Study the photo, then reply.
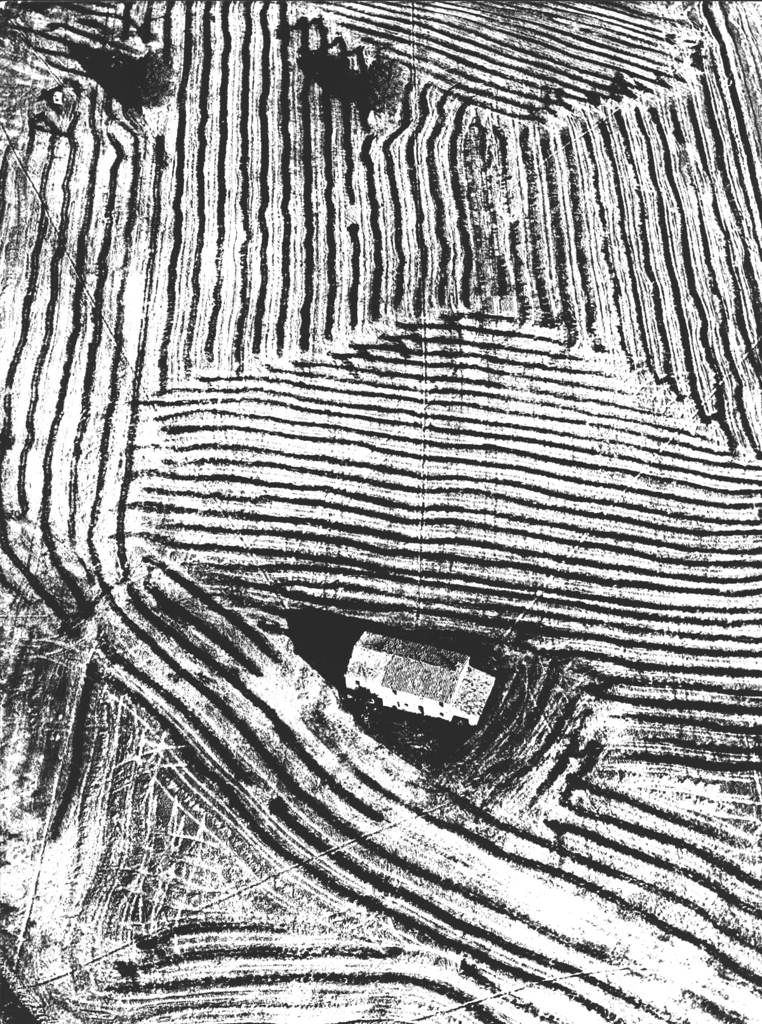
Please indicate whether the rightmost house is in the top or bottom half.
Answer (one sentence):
It is in the bottom half that the rightmost house appears.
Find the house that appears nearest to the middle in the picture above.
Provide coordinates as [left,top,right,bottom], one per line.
[344,631,497,727]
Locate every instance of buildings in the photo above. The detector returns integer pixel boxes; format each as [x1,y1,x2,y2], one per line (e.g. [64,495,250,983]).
[53,90,66,107]
[344,631,497,727]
